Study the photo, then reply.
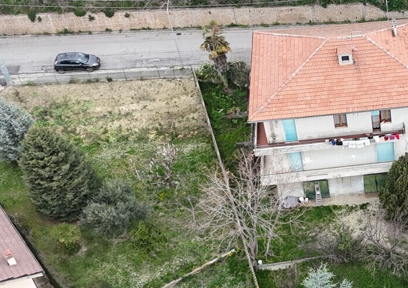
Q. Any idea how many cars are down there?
1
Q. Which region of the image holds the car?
top left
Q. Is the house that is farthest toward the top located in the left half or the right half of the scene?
right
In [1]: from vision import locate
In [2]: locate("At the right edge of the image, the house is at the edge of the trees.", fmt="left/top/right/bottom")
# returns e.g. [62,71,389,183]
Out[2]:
[247,18,408,197]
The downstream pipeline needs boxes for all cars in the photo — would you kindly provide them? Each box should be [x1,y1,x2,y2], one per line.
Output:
[52,48,101,71]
